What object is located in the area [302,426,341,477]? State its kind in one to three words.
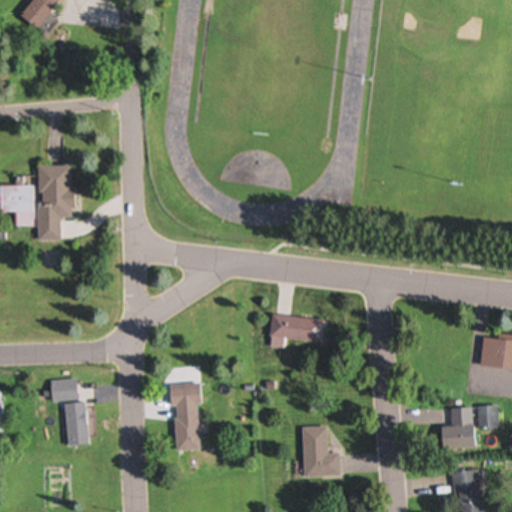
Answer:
house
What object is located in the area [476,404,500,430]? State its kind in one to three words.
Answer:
building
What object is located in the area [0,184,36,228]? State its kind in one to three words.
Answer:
building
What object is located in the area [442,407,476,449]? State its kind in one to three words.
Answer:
house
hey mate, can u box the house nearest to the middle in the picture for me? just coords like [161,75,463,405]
[270,314,324,348]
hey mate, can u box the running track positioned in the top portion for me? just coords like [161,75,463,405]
[166,0,374,226]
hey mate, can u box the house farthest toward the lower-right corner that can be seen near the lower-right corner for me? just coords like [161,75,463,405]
[454,469,485,512]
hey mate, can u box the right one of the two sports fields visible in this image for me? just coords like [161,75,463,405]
[362,0,512,234]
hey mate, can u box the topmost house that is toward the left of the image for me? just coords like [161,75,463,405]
[22,0,62,32]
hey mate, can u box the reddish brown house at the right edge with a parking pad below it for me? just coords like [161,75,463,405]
[482,334,512,368]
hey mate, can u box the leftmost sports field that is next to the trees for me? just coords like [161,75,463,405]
[187,0,352,202]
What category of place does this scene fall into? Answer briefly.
sports ground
